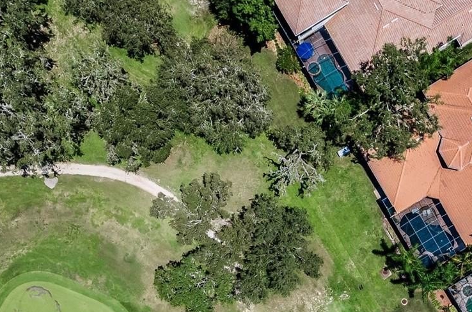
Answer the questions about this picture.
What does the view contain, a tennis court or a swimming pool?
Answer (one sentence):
This aerial view contains a swimming pool.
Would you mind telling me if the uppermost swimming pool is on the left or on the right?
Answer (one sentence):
It is on the right.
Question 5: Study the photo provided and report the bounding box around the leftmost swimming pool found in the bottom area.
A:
[399,211,455,271]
